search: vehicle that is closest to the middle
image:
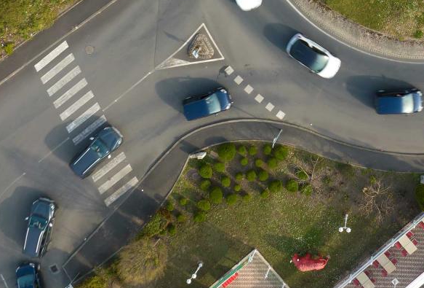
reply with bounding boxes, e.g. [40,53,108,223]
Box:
[180,85,233,124]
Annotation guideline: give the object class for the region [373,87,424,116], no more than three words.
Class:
car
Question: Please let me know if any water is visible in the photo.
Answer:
No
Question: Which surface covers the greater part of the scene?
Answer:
paved ground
